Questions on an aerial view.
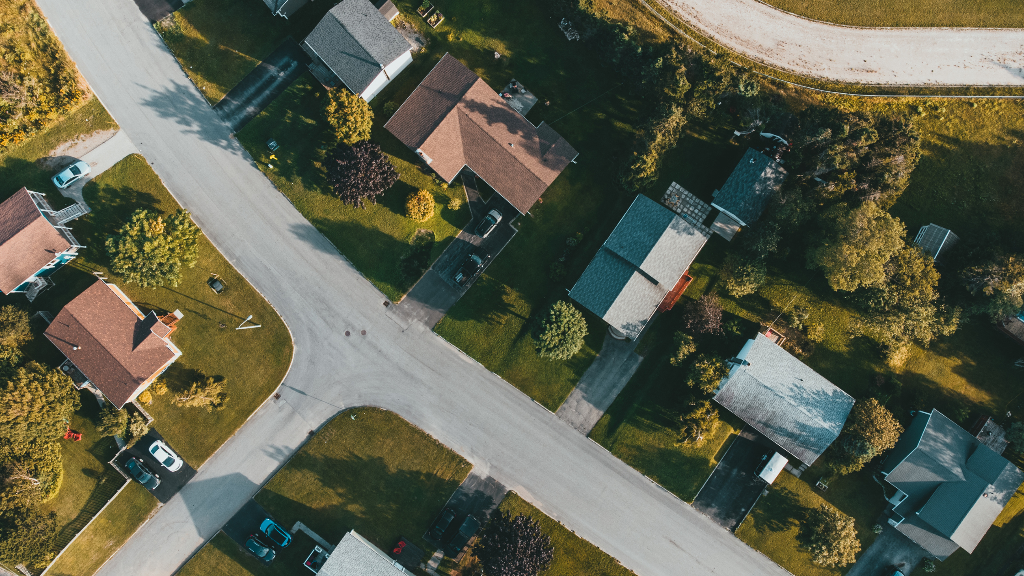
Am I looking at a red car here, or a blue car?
blue car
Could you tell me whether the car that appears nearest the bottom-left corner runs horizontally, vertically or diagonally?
diagonally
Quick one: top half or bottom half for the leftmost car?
top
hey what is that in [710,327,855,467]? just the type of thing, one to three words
house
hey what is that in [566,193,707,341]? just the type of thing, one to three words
house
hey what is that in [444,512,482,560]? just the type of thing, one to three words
truck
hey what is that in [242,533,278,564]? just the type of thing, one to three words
car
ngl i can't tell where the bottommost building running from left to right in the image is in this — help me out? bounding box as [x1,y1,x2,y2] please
[303,524,425,576]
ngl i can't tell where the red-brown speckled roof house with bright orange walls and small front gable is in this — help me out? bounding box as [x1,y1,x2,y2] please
[36,279,186,409]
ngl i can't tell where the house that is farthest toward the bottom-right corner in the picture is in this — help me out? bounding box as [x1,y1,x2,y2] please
[870,406,1024,562]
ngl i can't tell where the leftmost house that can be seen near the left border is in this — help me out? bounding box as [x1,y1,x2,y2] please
[0,187,88,303]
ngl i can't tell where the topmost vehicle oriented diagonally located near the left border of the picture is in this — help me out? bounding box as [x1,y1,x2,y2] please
[51,158,92,189]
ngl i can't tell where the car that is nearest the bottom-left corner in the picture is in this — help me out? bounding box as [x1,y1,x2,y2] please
[124,455,161,492]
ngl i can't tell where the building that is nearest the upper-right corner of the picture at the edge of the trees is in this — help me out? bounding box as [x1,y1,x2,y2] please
[913,223,960,267]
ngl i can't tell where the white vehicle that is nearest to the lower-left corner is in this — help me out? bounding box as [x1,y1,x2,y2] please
[147,437,183,474]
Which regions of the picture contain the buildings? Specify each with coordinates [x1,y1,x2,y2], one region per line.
[303,524,425,576]
[293,0,413,100]
[0,187,88,303]
[710,147,789,228]
[384,52,580,215]
[710,327,855,467]
[36,279,186,409]
[870,406,1024,562]
[566,193,707,341]
[261,0,306,21]
[913,223,960,267]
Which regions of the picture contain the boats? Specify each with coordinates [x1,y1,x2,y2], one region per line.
[759,129,790,143]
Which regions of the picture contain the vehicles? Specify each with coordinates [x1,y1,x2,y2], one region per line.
[51,158,92,189]
[147,437,183,474]
[259,516,293,549]
[882,560,904,576]
[756,444,790,488]
[444,512,482,560]
[473,206,503,241]
[124,455,161,492]
[450,245,490,290]
[242,533,278,564]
